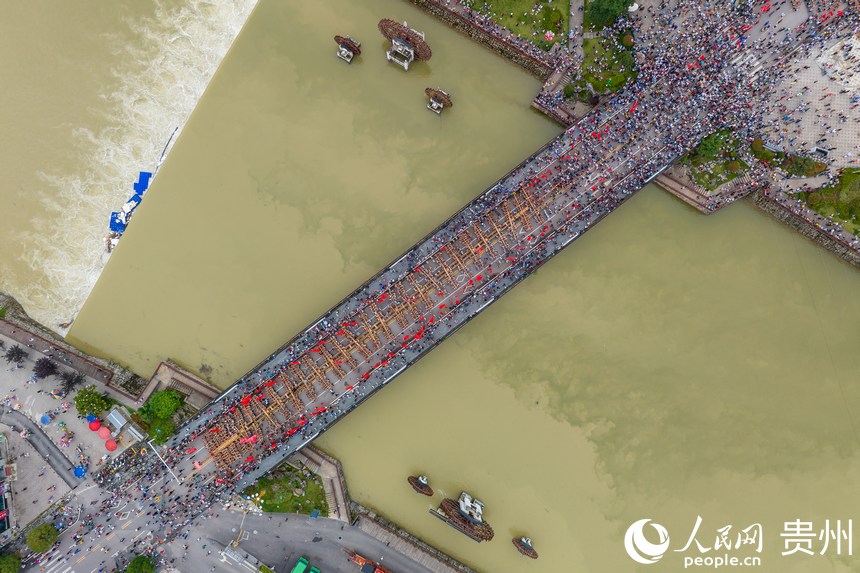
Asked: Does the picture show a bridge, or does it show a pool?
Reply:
bridge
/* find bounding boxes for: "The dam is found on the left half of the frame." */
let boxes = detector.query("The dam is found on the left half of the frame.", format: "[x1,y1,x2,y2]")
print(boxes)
[56,0,259,339]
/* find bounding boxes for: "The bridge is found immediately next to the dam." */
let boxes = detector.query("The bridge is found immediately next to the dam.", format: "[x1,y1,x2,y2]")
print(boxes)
[178,98,670,497]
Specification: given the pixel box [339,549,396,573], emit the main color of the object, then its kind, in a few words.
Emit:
red truck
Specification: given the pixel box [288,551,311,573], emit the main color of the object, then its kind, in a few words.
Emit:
green bus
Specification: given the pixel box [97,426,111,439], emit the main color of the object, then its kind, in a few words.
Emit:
pink umbrella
